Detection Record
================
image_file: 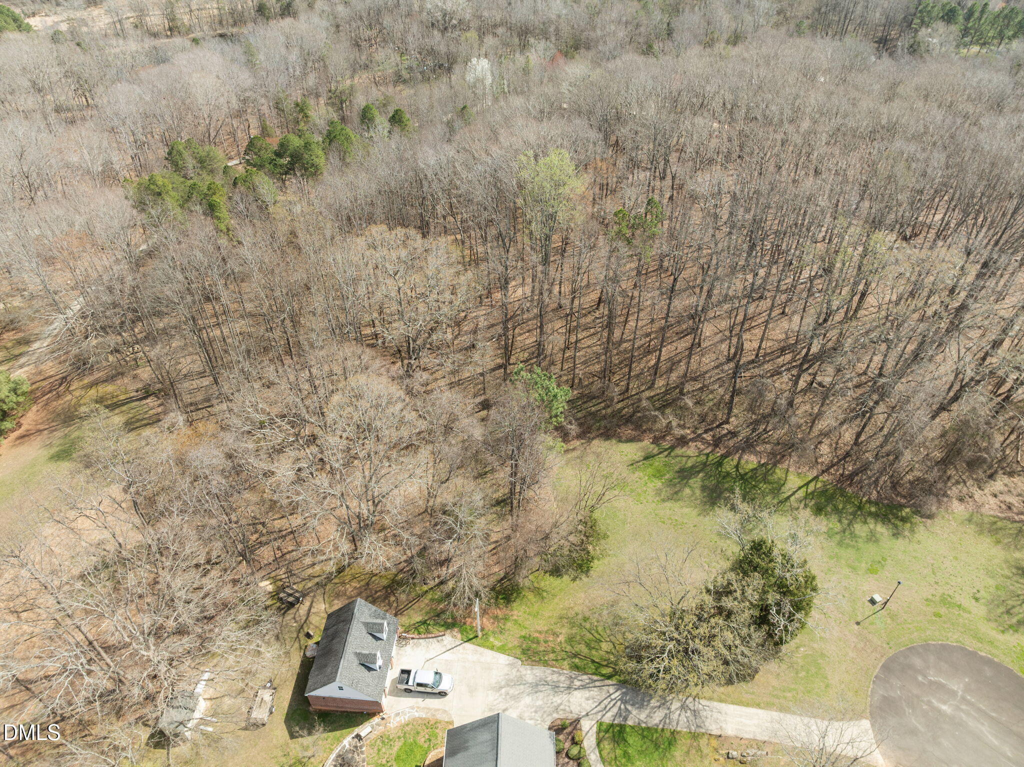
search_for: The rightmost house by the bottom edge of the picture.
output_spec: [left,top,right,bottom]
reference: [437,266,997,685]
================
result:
[442,712,557,767]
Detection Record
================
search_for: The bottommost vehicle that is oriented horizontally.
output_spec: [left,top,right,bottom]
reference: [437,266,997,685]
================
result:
[397,669,455,696]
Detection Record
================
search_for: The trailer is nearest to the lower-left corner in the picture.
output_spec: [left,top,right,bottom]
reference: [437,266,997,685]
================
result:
[246,676,276,734]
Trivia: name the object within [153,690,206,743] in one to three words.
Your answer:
shed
